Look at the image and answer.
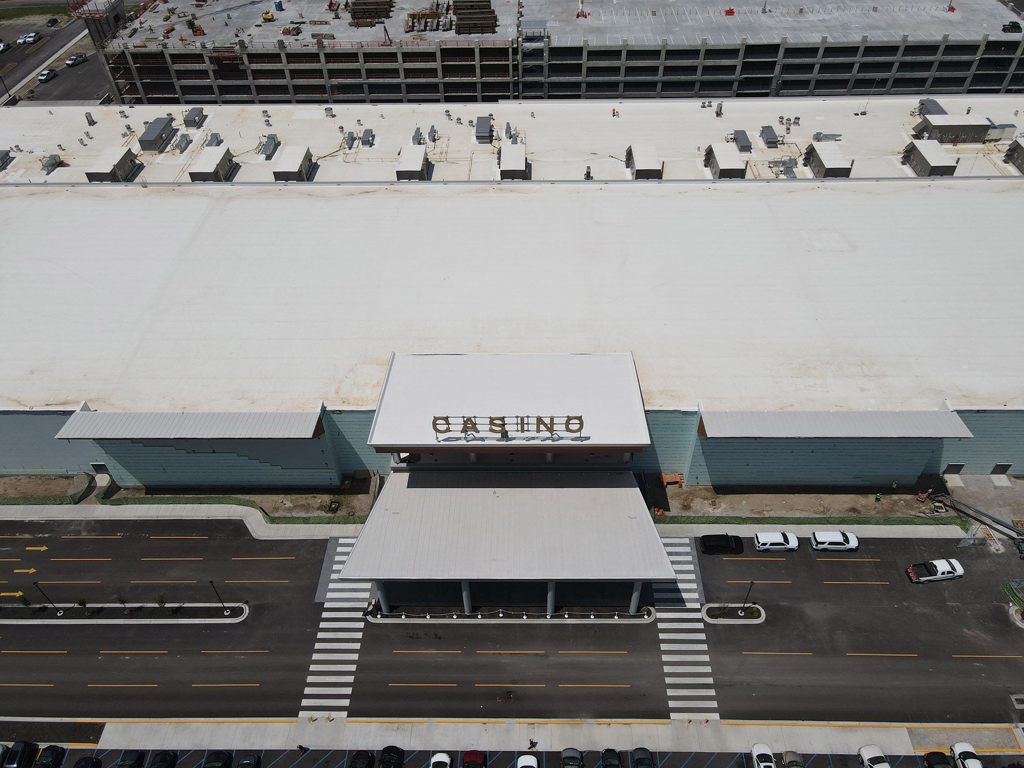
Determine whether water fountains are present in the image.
No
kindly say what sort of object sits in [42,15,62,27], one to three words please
vehicle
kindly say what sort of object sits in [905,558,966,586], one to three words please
truck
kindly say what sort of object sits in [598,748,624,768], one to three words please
car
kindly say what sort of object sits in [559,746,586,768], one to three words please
car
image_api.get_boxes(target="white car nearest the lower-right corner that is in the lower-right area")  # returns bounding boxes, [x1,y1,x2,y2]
[950,739,990,768]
